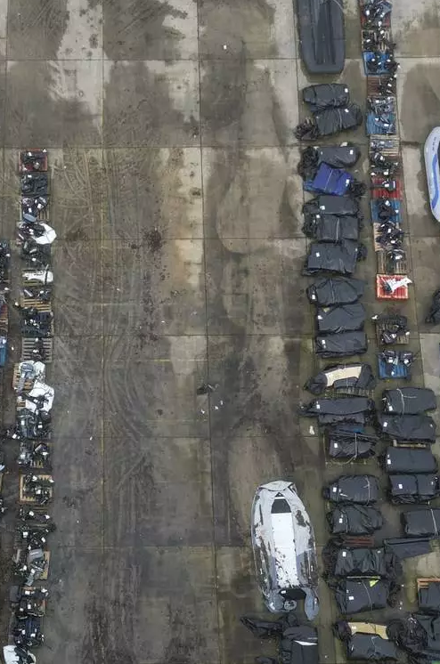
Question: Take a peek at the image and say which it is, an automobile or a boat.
boat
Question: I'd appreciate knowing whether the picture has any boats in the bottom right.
Yes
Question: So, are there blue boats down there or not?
Yes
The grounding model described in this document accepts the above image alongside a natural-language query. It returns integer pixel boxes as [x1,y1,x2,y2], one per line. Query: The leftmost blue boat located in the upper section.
[306,162,370,196]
